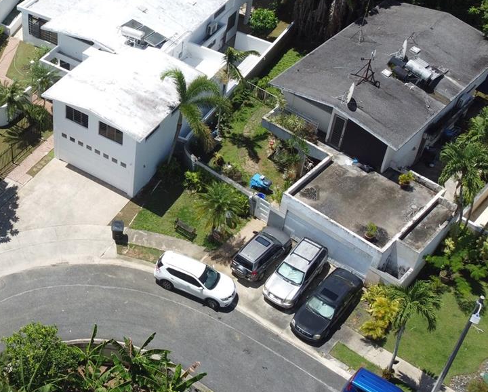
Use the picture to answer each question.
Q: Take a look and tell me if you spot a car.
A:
Yes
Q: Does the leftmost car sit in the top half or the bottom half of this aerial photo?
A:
bottom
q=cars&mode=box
[336,358,409,392]
[299,263,368,338]
[274,232,339,304]
[152,251,240,313]
[233,226,297,287]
